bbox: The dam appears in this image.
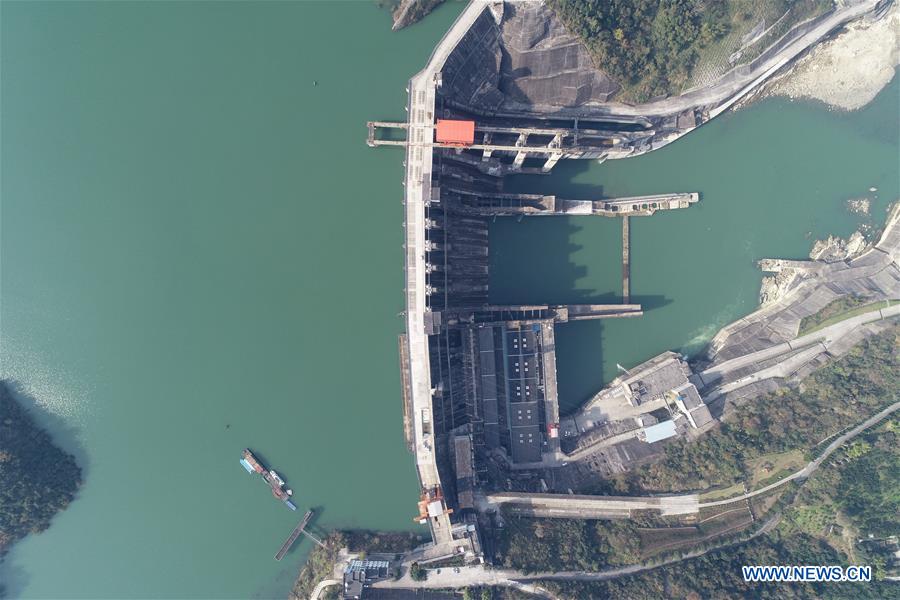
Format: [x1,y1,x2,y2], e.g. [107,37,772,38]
[399,0,504,548]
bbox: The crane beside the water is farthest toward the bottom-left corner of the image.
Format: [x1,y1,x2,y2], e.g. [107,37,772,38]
[410,488,446,525]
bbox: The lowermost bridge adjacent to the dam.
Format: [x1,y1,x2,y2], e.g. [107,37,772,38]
[487,488,700,518]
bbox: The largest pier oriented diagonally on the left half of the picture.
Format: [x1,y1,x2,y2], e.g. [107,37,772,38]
[272,510,313,560]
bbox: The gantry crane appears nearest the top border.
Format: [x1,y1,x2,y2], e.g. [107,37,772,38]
[436,119,475,147]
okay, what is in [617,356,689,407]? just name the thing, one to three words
building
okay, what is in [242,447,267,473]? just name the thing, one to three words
ship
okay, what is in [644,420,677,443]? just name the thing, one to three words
shed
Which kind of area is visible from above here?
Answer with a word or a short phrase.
port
